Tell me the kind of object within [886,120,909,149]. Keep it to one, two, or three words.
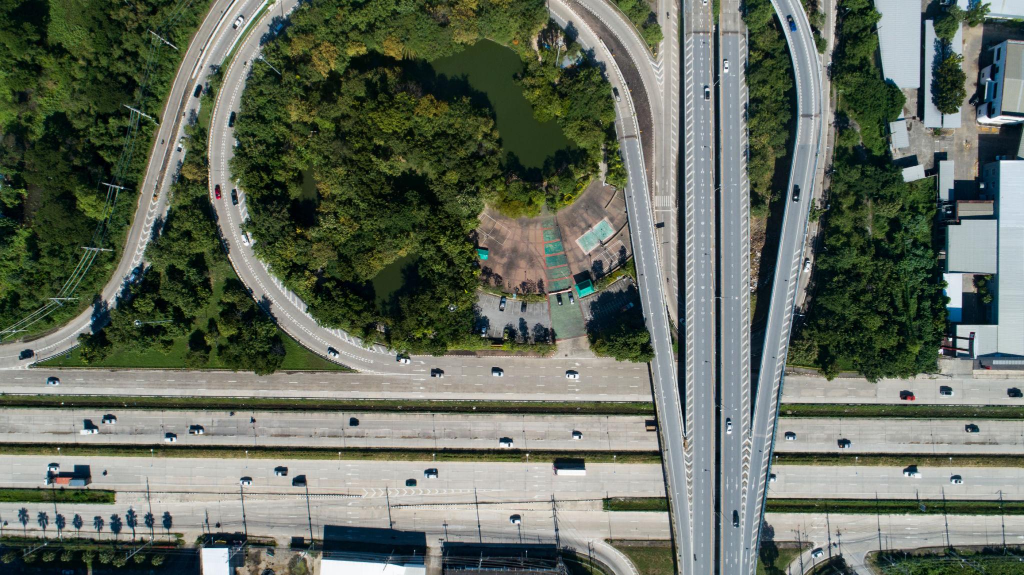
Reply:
shed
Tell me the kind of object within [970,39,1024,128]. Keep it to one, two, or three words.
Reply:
building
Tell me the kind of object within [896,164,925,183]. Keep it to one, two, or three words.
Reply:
shed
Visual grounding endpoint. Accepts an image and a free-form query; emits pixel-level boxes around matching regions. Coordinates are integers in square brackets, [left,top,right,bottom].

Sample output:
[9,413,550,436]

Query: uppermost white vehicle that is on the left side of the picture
[232,15,245,29]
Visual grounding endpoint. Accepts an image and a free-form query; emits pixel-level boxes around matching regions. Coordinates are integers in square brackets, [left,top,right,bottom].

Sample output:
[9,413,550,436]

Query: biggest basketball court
[576,217,616,254]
